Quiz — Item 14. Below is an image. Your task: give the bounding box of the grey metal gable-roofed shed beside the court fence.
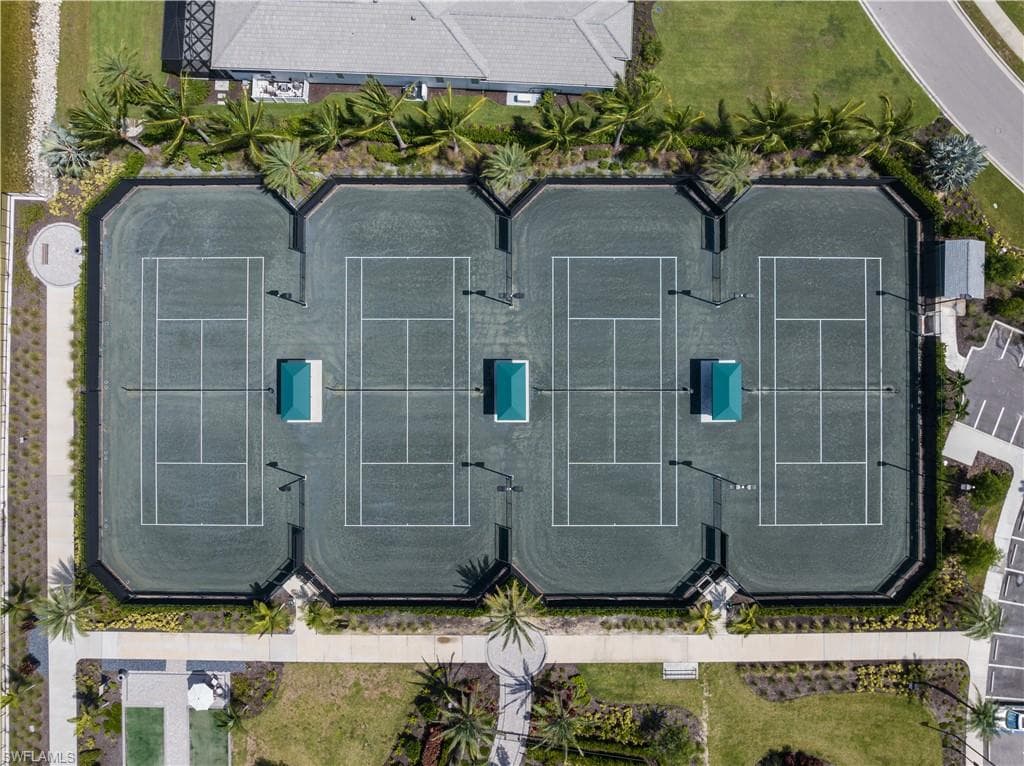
[935,239,986,297]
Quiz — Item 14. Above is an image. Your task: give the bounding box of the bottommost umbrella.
[189,682,214,707]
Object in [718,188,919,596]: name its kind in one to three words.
tennis court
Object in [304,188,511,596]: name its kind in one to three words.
tennis court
